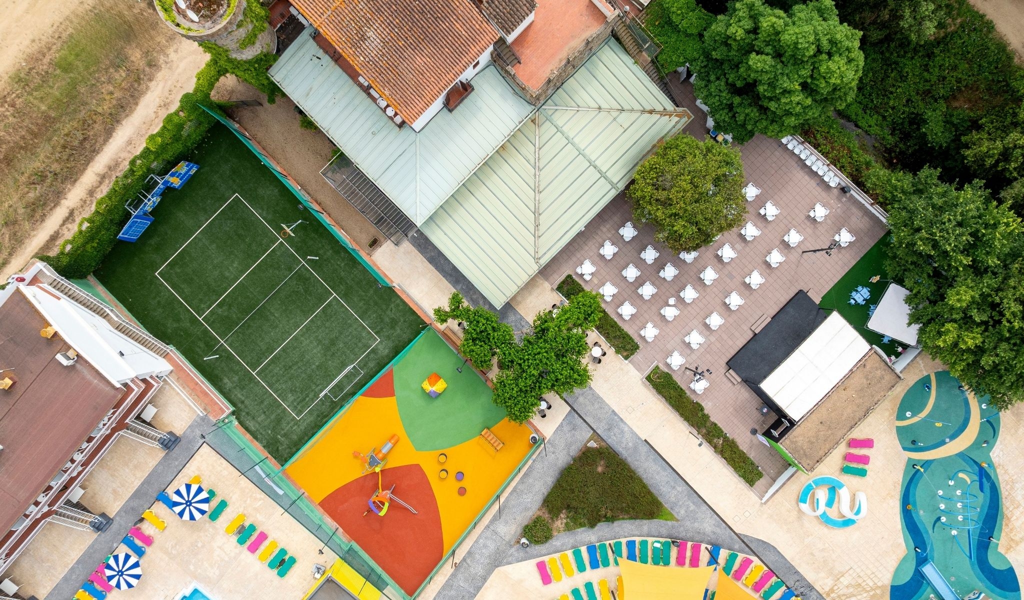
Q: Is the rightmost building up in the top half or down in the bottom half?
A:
bottom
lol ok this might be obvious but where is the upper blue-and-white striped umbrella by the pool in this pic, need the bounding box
[174,482,211,519]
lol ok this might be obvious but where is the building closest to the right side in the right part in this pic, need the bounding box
[743,310,905,477]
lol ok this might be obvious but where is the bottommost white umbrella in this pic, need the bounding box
[103,551,140,588]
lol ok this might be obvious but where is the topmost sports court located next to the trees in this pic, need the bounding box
[95,128,432,461]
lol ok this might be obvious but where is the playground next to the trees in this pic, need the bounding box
[286,330,540,595]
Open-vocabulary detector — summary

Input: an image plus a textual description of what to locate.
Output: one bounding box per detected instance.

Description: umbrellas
[103,551,140,588]
[174,482,211,519]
